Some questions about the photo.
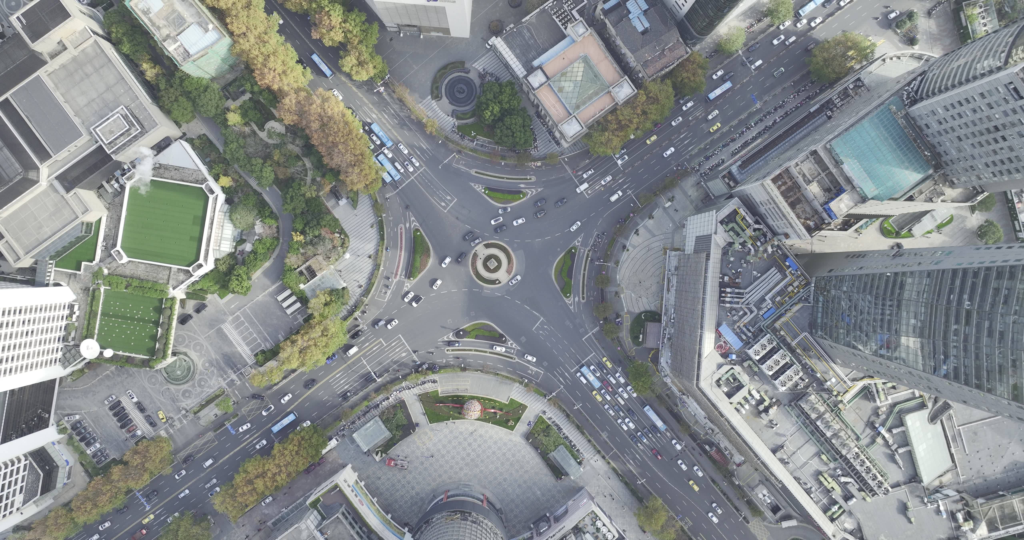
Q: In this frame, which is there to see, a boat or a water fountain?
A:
water fountain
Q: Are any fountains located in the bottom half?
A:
Yes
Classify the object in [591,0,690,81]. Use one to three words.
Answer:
building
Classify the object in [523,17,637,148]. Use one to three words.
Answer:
building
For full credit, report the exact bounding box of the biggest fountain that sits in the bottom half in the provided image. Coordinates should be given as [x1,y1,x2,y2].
[159,350,197,387]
